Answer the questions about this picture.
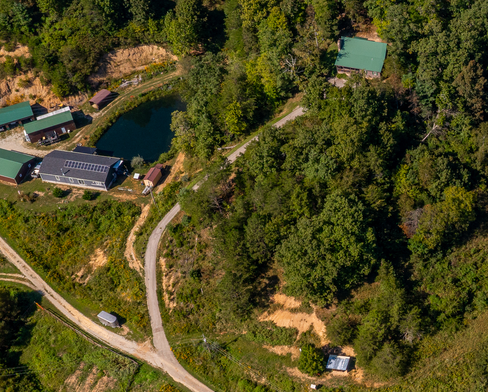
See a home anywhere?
Yes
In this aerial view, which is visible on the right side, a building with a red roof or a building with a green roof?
building with a green roof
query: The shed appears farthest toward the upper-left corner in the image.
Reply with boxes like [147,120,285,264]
[0,102,34,126]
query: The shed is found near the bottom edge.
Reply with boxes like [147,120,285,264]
[326,352,348,374]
